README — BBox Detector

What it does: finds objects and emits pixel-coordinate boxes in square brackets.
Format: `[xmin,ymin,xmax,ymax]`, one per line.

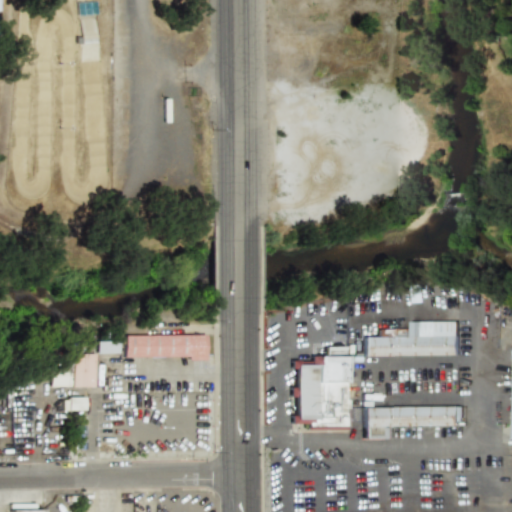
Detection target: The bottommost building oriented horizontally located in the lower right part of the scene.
[368,406,465,440]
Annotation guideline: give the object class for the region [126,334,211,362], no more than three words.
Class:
building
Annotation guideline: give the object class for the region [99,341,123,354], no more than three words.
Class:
shed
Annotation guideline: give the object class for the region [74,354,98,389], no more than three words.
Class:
building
